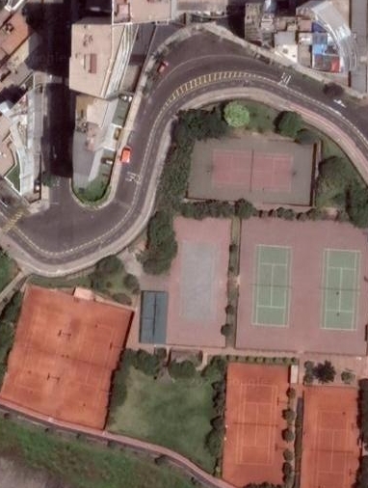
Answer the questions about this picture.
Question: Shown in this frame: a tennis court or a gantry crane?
tennis court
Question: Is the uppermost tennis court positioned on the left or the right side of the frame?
right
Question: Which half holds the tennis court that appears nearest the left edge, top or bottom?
bottom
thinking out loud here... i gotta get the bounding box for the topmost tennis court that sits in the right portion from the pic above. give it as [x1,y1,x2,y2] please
[187,138,312,207]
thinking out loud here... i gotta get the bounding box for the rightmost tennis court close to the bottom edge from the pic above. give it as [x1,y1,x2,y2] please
[299,385,357,488]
